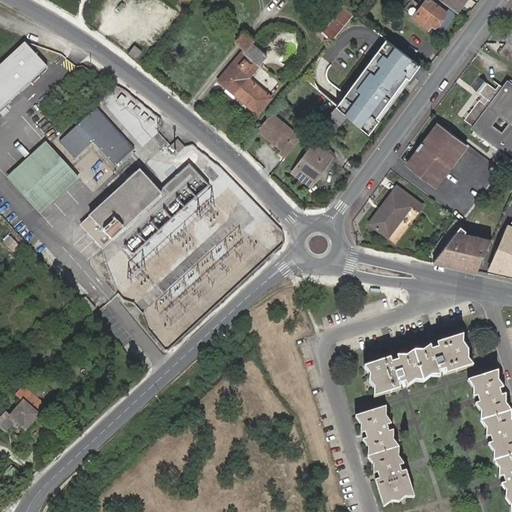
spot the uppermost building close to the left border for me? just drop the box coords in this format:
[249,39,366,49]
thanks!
[0,41,48,116]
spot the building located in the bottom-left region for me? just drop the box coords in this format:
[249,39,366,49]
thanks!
[0,388,41,432]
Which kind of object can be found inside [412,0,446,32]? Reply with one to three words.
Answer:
house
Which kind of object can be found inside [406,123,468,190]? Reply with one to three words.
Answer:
building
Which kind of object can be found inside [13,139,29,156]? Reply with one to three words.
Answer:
vehicle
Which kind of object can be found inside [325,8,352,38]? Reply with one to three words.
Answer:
shed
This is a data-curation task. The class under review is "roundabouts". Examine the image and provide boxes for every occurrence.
[277,205,362,279]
